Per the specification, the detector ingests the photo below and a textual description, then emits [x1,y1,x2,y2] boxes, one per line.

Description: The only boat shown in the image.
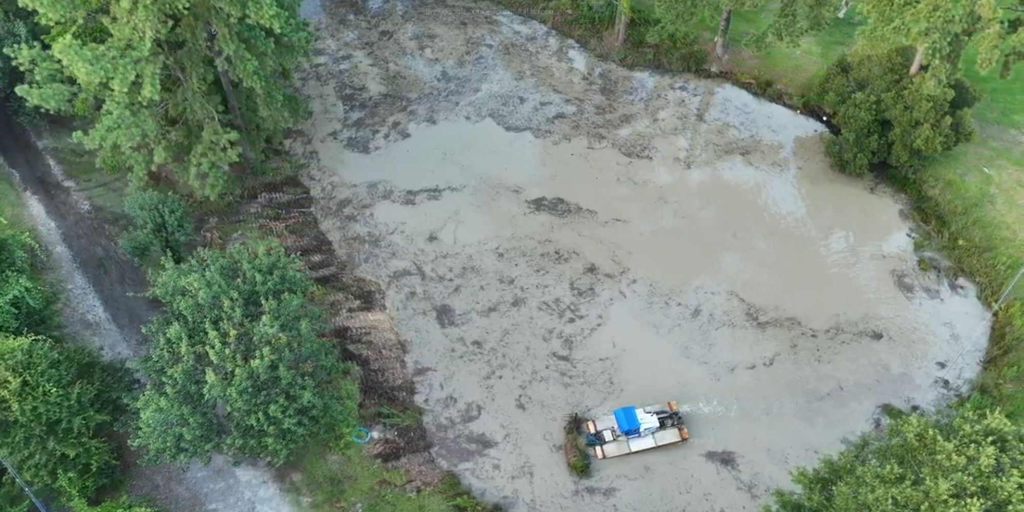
[560,403,688,470]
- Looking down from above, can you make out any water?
Yes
